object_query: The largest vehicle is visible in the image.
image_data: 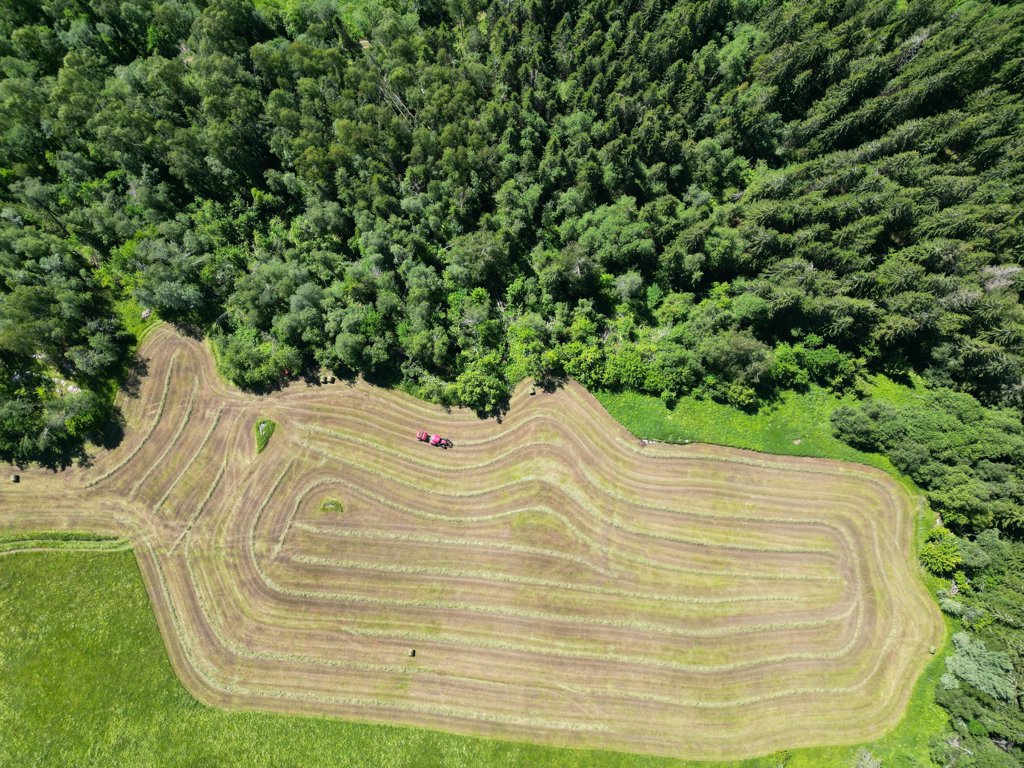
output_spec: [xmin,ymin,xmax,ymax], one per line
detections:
[430,433,453,449]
